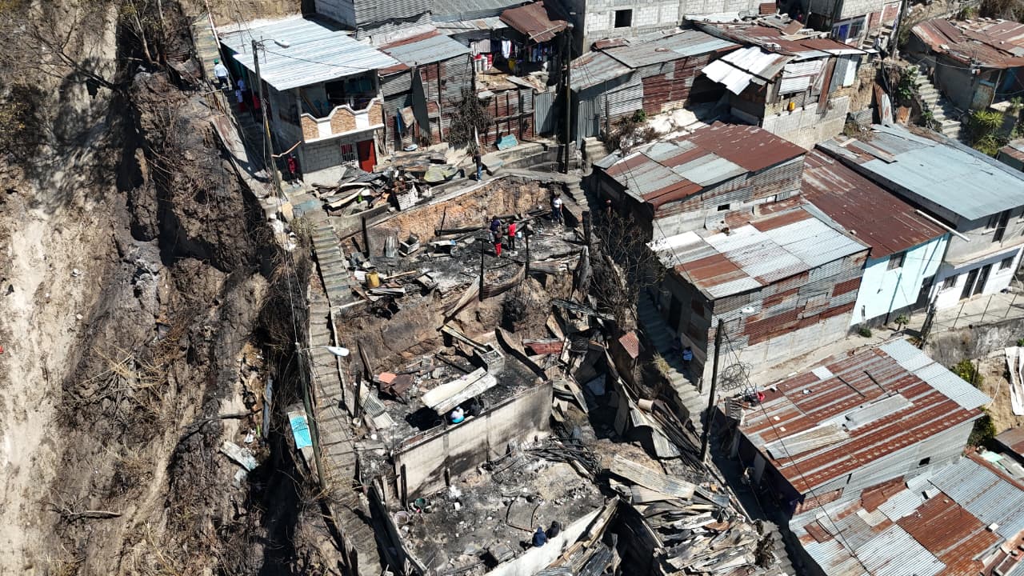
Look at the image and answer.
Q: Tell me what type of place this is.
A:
residential area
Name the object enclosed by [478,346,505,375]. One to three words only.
water tank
